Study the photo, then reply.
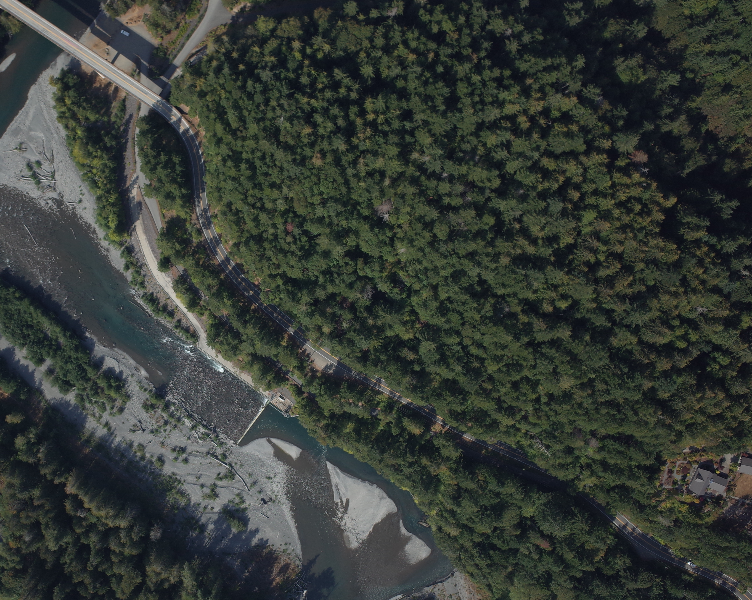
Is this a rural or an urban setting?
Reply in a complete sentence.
It looks rural.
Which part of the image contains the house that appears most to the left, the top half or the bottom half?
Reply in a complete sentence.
The bottom half of the photo is where the house that appears most to the left is.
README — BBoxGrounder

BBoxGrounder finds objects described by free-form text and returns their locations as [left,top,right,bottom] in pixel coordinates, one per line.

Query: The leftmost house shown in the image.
[687,468,728,496]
